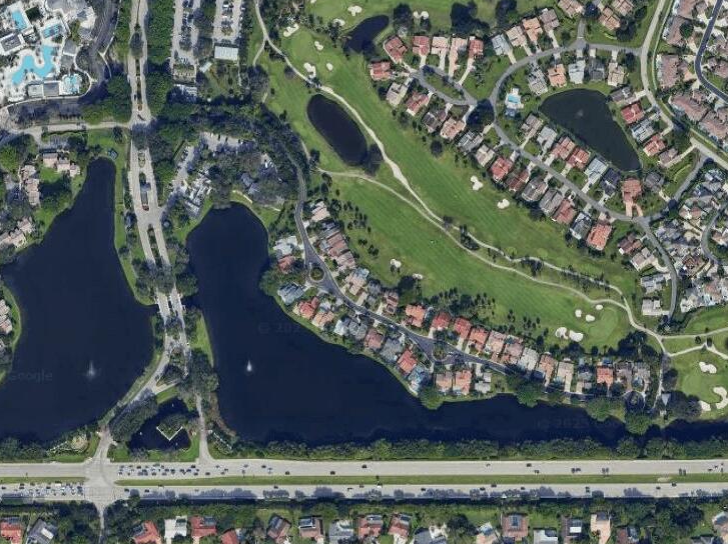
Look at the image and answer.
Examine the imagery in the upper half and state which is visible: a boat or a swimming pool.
swimming pool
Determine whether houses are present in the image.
Yes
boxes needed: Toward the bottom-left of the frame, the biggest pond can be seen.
[129,397,193,450]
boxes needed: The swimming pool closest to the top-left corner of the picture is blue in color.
[10,10,28,31]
